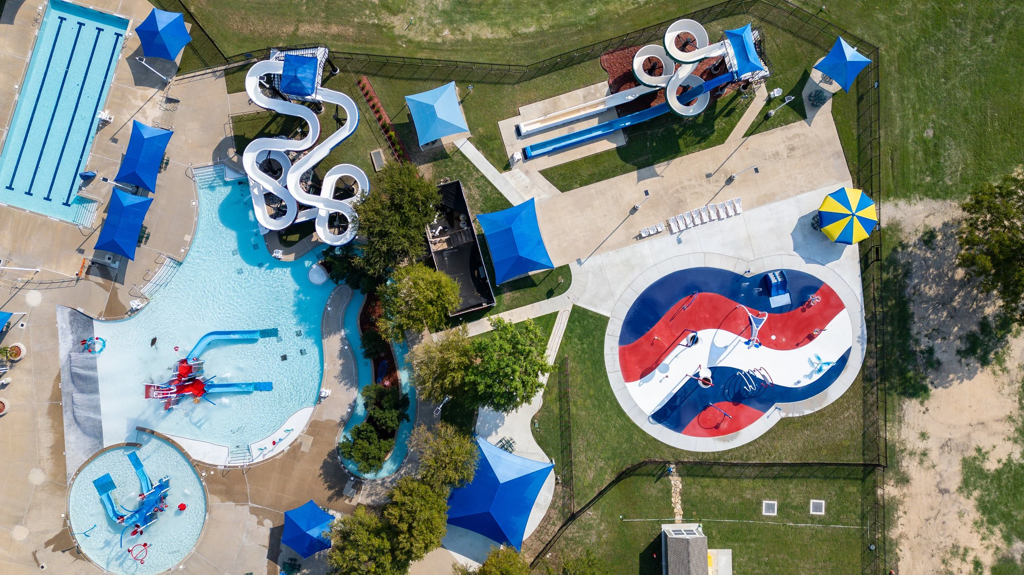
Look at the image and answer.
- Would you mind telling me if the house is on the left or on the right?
right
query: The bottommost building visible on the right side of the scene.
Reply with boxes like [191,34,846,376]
[664,528,711,575]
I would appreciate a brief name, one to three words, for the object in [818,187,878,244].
umbrella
